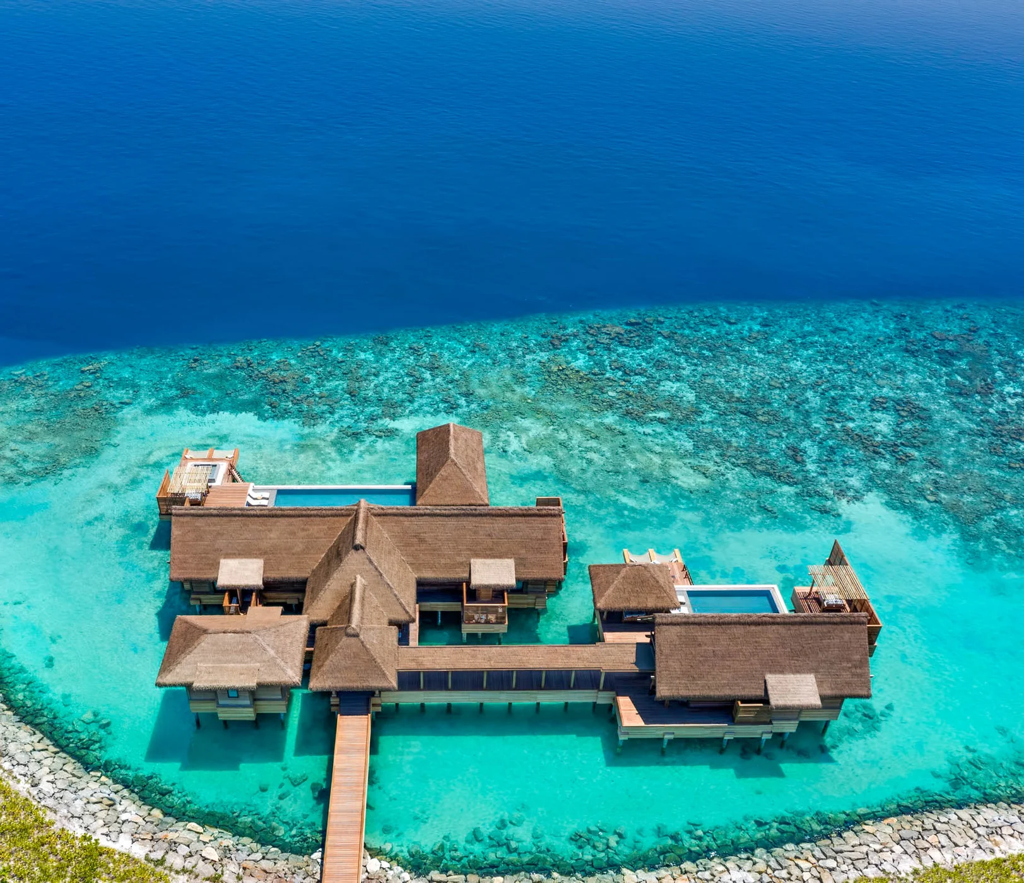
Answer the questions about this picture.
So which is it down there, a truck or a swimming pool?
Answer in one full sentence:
The image shows a swimming pool.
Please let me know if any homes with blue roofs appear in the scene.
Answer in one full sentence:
No, there's no home with a blue roof here.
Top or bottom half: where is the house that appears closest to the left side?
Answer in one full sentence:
The house that appears closest to the left side is in the bottom half of the image.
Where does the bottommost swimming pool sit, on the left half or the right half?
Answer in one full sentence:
You can find the bottommost swimming pool on the right side of the picture.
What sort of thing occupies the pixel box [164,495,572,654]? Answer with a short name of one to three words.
house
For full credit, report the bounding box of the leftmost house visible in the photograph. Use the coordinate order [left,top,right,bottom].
[155,609,321,748]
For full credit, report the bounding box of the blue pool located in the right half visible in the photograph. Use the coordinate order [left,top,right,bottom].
[674,586,793,613]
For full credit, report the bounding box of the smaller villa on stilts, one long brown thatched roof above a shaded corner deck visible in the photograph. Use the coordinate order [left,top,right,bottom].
[606,610,876,764]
